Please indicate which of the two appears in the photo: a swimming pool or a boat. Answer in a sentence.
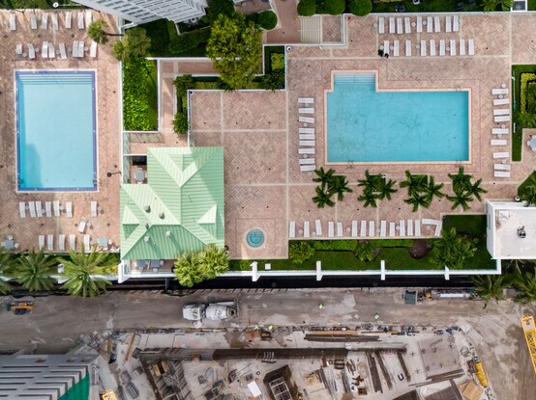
It is a swimming pool that can be seen here.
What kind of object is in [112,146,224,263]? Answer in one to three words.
building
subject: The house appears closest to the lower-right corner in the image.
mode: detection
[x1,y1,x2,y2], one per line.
[486,201,536,260]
